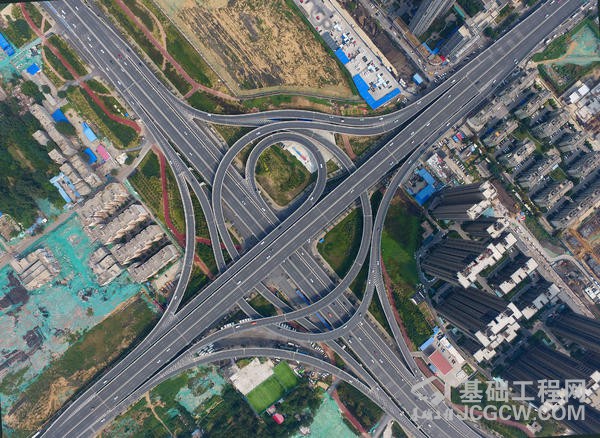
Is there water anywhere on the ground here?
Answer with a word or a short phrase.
No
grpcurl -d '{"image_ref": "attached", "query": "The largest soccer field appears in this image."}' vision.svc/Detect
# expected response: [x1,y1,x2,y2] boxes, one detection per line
[247,374,286,417]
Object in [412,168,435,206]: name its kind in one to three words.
shed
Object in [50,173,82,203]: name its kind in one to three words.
shed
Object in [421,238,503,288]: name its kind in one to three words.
building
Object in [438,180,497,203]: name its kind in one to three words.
building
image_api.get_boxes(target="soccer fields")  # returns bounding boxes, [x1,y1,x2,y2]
[274,361,299,392]
[247,374,286,417]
